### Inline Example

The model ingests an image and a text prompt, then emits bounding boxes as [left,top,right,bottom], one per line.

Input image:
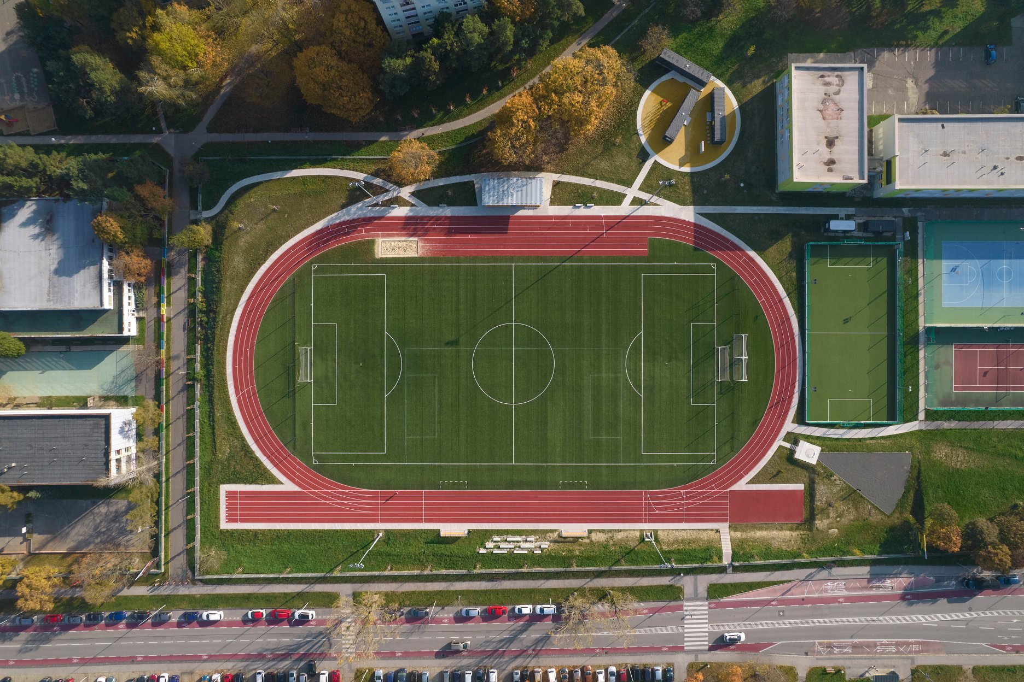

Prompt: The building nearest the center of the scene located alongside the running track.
[482,178,543,211]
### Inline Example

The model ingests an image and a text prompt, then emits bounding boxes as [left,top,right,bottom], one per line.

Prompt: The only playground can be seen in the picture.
[637,70,740,172]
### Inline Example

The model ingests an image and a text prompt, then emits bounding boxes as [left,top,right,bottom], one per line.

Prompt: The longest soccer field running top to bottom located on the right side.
[809,244,896,423]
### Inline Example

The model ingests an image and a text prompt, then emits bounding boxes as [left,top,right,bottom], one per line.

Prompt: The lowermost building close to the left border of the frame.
[0,409,136,484]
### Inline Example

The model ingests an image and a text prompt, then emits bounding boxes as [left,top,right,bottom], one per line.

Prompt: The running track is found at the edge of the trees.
[220,207,804,529]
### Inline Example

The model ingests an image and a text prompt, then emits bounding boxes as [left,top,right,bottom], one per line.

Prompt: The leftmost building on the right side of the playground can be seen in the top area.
[775,63,867,191]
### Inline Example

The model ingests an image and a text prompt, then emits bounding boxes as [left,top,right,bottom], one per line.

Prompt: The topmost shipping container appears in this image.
[657,48,712,88]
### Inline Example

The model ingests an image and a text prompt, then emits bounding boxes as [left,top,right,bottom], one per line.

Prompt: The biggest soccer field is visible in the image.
[254,237,775,490]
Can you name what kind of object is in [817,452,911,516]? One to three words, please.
sports field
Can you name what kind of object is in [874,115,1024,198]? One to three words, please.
building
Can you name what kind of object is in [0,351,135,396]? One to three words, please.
sports court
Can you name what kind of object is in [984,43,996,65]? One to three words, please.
vehicle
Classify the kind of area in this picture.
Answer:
sports ground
